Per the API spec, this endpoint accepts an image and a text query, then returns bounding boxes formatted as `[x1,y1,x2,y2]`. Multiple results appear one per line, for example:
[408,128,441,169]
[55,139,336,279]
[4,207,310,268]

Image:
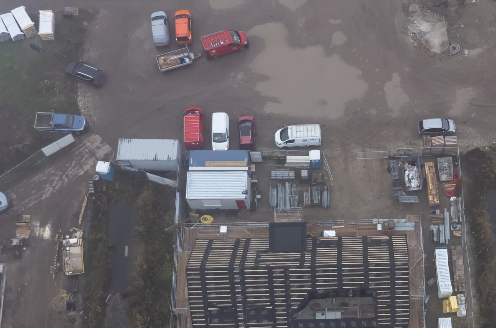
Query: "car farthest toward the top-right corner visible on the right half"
[418,114,456,136]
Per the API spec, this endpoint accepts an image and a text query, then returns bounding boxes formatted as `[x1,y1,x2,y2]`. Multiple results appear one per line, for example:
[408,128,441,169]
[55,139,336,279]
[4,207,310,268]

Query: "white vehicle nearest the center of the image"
[208,110,230,150]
